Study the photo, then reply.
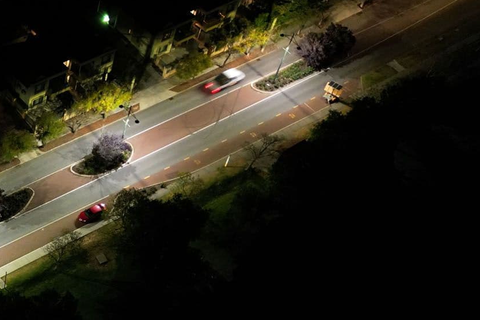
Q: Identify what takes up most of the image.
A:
trees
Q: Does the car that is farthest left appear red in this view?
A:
Yes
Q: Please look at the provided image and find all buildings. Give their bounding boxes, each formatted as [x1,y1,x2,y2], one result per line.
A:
[0,0,133,110]
[115,0,246,58]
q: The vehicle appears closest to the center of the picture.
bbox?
[208,71,242,92]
